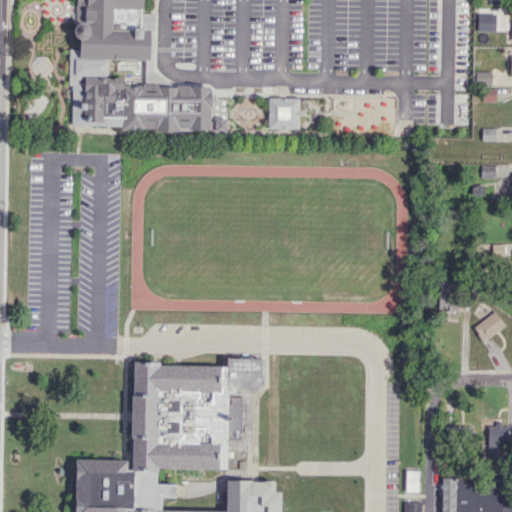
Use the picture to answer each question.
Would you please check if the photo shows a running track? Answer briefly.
Yes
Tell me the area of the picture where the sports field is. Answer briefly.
center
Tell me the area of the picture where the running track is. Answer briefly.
center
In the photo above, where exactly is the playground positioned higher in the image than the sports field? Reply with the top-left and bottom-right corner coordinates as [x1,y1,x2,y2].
[330,92,397,134]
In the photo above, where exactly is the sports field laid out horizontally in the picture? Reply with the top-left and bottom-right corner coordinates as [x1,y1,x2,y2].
[144,177,396,302]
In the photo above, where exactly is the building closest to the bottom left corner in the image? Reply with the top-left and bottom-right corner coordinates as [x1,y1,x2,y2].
[76,358,284,512]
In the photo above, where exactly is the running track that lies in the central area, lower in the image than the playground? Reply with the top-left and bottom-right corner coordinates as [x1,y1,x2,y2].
[131,164,410,314]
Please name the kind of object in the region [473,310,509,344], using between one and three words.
house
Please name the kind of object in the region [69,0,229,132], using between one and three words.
building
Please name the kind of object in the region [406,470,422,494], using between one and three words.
building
